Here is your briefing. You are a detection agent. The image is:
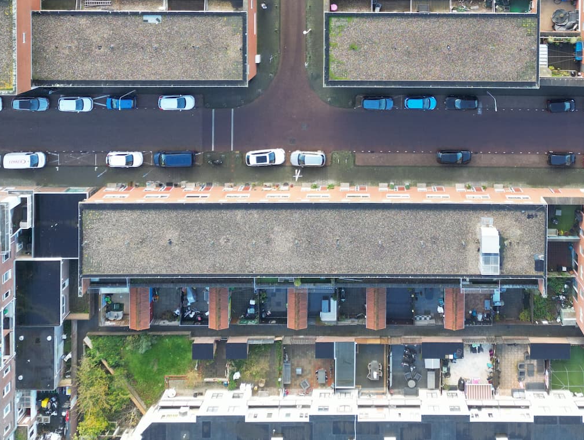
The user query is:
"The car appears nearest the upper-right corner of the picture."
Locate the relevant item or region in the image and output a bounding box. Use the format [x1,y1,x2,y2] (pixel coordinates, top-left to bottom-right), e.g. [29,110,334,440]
[545,98,575,115]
